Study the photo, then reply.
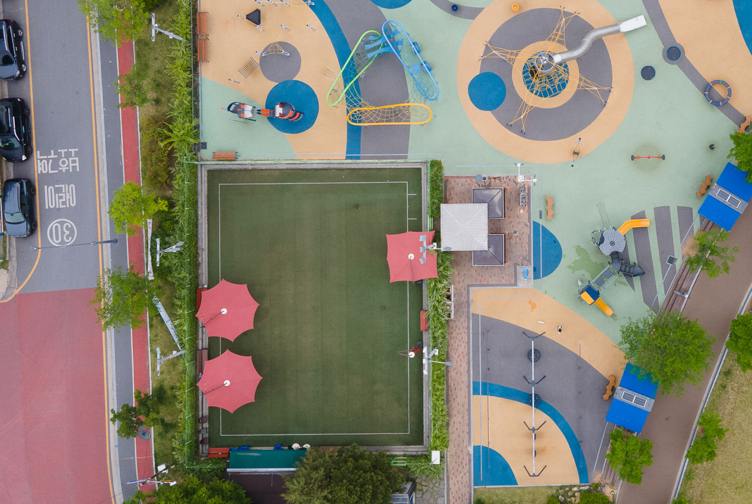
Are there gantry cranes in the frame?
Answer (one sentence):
No, I can't see a single gantry crane in this photo.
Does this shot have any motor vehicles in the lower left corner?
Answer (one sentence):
No, no motor vehicle appears in the lower left corner.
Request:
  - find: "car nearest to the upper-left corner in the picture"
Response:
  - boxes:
[0,19,26,81]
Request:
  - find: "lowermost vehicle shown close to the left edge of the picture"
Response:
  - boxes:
[2,179,37,237]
